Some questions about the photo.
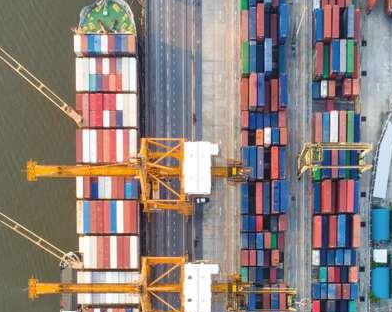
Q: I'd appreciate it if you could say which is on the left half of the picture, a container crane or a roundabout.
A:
container crane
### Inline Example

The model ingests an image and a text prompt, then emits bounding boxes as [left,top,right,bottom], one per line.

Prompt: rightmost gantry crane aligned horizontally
[299,141,378,180]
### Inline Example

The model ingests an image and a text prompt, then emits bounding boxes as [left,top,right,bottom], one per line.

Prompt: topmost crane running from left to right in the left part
[18,138,254,219]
